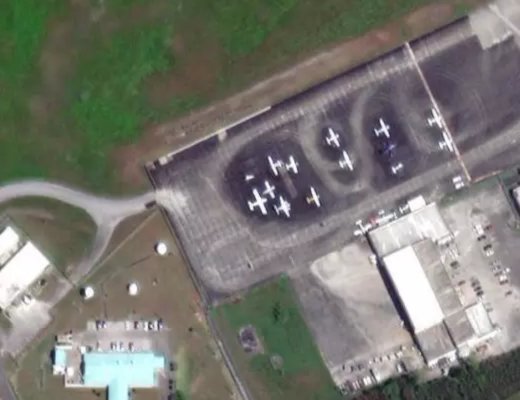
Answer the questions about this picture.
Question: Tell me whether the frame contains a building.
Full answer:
Yes, the frame does contain a building.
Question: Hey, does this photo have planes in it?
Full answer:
Yes, I can see a plane in this picture.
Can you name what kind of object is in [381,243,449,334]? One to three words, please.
hangar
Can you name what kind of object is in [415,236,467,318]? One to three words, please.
building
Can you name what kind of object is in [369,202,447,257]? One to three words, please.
hangar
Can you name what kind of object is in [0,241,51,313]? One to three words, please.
building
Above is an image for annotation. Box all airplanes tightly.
[390,160,402,174]
[378,139,394,157]
[274,196,291,217]
[304,187,321,207]
[337,150,353,170]
[246,189,267,214]
[284,156,299,173]
[268,156,283,175]
[324,128,339,146]
[437,131,453,151]
[427,109,442,127]
[260,182,274,197]
[401,200,412,213]
[355,220,371,235]
[374,119,390,137]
